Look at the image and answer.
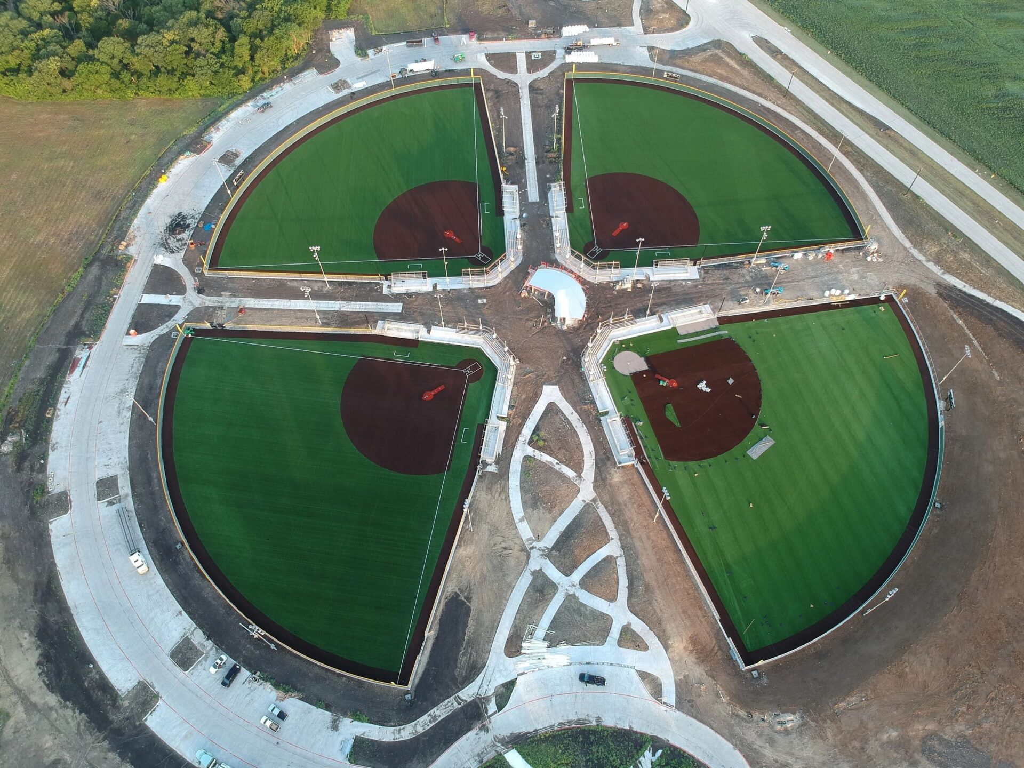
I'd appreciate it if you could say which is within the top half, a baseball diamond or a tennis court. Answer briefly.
baseball diamond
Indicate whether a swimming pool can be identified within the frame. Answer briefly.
No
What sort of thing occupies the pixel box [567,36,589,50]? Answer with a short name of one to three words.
vehicle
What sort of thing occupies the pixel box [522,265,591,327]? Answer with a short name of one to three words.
building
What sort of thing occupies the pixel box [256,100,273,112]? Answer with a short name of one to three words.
vehicle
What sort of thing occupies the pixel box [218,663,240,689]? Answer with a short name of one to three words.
car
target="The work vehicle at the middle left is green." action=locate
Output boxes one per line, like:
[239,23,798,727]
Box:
[182,325,200,338]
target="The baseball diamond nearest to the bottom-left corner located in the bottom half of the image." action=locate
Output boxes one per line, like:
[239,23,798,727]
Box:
[163,328,497,681]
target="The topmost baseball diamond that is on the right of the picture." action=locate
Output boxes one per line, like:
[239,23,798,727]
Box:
[562,78,866,267]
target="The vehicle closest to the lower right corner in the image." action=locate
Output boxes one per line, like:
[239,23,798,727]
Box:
[578,673,608,687]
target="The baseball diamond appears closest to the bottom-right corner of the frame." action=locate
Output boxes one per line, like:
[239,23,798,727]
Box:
[600,295,938,661]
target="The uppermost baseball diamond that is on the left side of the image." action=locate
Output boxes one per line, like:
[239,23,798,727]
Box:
[207,82,506,282]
